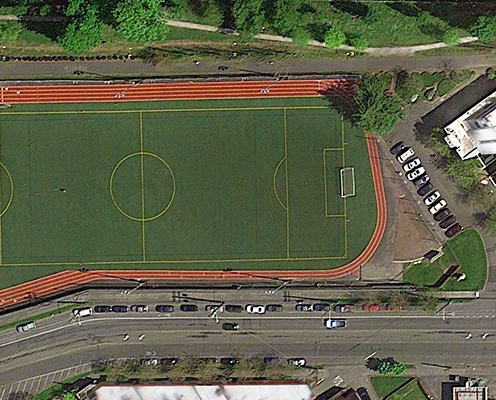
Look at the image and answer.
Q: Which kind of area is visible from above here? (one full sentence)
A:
The picture captures a sports ground.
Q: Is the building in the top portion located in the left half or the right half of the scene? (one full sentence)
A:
The building in the top portion appears in the right half of the scene.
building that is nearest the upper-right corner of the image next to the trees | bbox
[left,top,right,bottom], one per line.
[443,94,496,160]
